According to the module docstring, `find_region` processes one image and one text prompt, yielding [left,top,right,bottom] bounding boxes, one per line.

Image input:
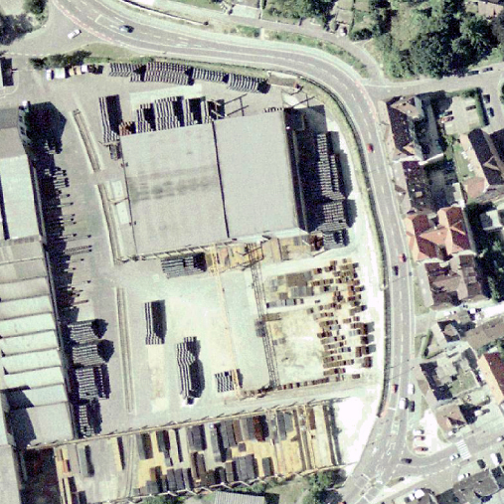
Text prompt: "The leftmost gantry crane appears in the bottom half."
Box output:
[212,251,256,398]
